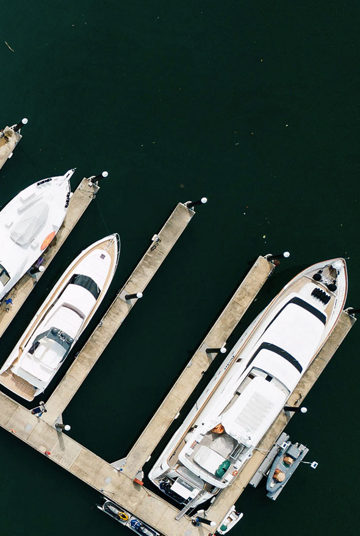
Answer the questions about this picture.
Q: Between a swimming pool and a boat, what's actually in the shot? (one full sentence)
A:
I can see a boat in this picture.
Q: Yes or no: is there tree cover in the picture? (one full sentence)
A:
No, no tree cover is visible.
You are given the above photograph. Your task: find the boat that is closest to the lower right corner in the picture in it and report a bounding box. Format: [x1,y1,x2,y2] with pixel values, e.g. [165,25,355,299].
[267,437,318,493]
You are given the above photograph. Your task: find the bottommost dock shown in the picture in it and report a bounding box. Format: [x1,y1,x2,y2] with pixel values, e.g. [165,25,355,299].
[95,497,159,536]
